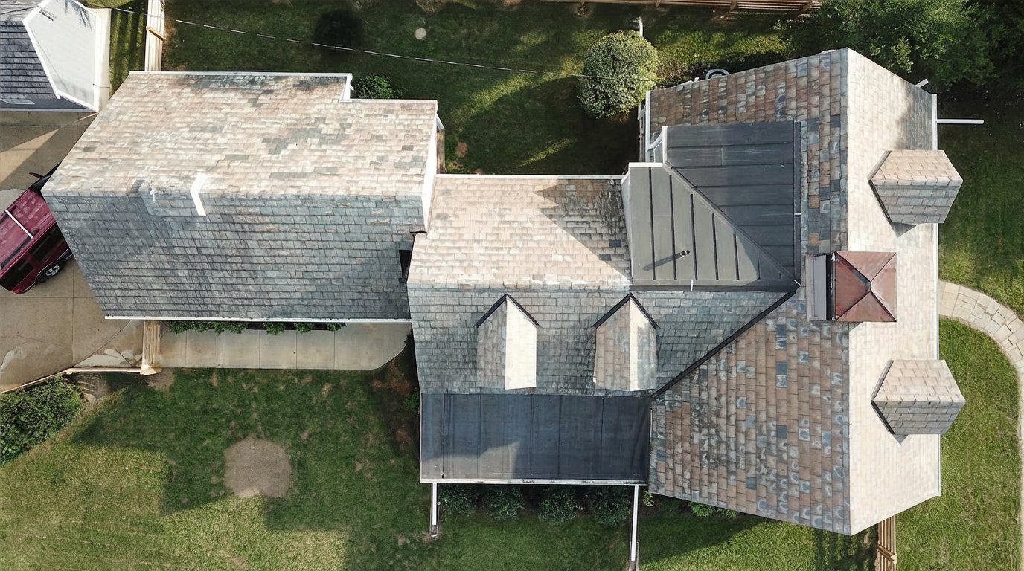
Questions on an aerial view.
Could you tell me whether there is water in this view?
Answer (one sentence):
No, there is no water in the image.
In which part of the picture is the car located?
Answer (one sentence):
The car is located in the left region of the scene.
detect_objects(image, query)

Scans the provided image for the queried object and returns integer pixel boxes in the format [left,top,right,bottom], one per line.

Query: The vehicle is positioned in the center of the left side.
[0,177,70,291]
